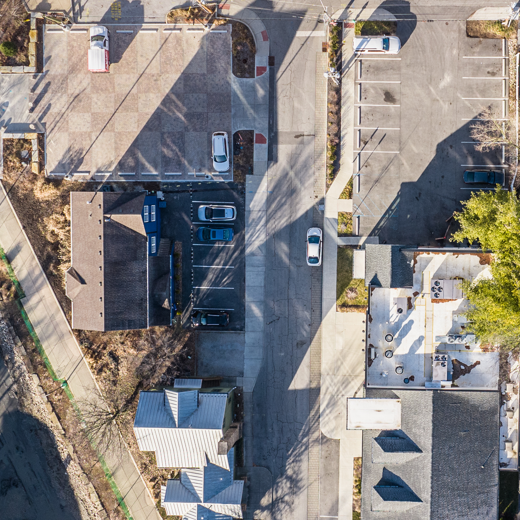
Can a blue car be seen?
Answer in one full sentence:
Yes, the frame does contain a blue car.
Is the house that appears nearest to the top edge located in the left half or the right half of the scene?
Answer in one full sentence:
The house that appears nearest to the top edge appears in the left half of the scene.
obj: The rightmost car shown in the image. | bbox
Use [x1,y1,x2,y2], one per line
[463,168,504,186]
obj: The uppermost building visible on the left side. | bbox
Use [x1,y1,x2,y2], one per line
[66,191,179,332]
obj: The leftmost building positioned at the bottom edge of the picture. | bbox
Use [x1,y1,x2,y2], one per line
[134,384,250,520]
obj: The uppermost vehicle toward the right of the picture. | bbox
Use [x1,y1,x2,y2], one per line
[352,34,400,53]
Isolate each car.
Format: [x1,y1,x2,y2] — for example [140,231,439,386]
[198,204,237,223]
[305,227,324,266]
[463,168,504,186]
[192,310,229,328]
[196,225,234,243]
[210,132,230,171]
[352,34,400,53]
